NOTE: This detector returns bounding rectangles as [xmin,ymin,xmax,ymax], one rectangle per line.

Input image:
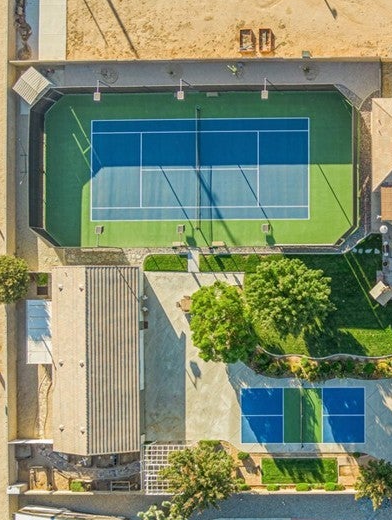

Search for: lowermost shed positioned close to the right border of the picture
[367,279,392,307]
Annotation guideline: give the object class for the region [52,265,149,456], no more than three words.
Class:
building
